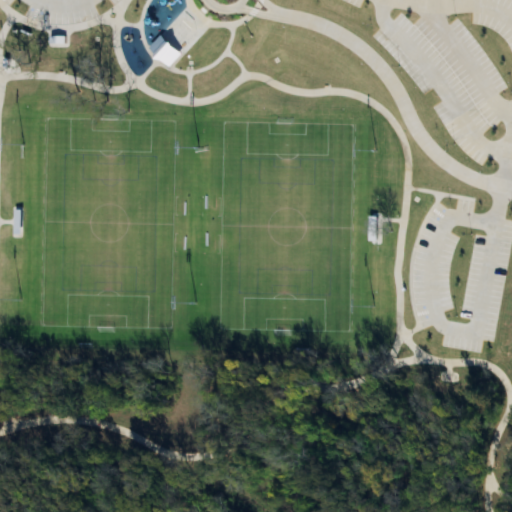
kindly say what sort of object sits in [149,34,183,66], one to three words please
building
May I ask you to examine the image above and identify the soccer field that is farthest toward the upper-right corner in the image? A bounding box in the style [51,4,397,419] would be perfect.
[218,118,356,333]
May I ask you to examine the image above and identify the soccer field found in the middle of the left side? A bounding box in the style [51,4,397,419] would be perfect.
[42,118,180,330]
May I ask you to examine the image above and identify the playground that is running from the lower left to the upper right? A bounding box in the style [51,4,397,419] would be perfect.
[122,0,186,75]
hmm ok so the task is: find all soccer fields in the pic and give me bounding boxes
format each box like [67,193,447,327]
[42,118,180,330]
[218,118,356,333]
